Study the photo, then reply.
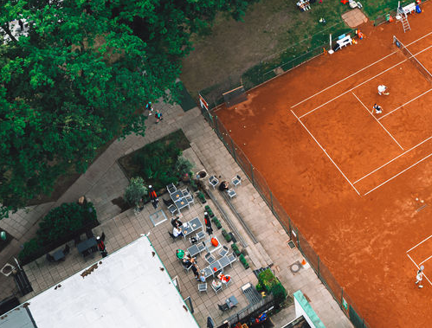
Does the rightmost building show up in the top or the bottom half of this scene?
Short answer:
bottom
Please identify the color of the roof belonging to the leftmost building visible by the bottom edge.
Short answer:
white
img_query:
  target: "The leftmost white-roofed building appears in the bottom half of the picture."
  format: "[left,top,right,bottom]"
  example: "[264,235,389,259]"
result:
[0,227,202,328]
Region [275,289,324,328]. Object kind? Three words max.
building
